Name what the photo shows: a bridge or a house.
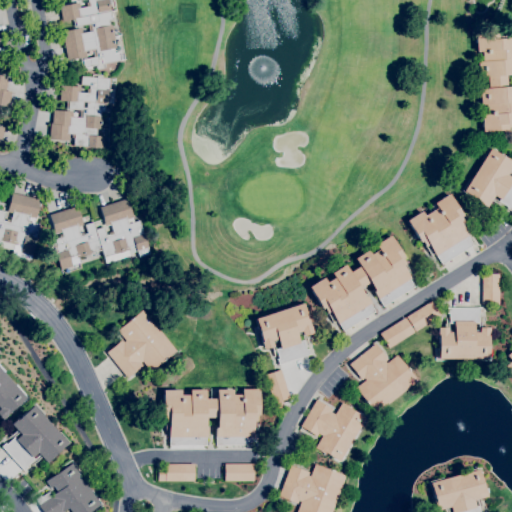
house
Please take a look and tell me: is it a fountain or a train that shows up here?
fountain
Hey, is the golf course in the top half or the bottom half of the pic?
top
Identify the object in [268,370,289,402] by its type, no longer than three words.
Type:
building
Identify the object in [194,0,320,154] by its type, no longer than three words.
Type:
pond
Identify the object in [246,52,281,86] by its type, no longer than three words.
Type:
fountain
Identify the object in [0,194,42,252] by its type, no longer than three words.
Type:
house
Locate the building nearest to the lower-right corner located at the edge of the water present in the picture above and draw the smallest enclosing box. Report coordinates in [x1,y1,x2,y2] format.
[432,470,492,512]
